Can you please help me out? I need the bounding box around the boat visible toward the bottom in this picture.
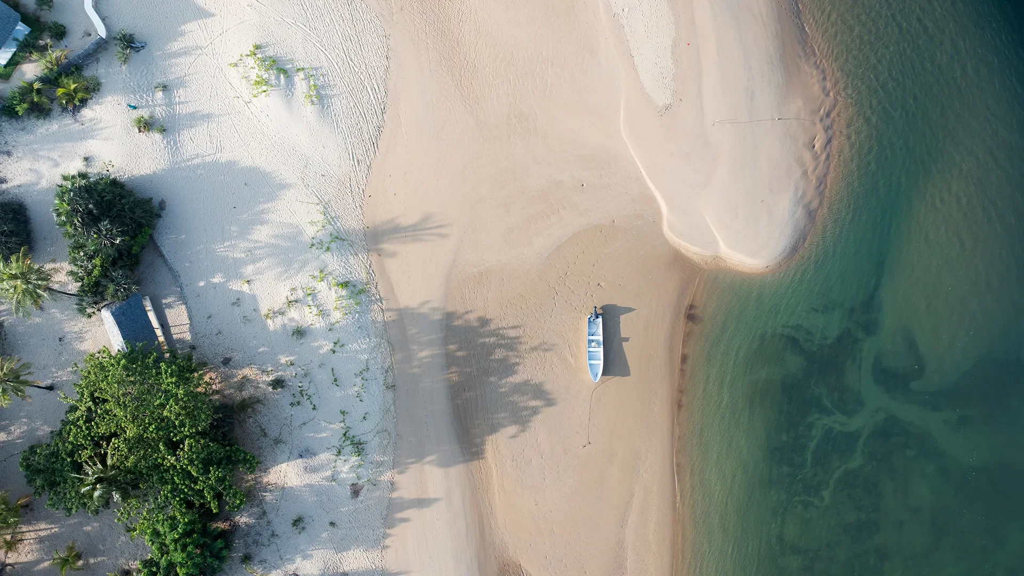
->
[588,317,605,383]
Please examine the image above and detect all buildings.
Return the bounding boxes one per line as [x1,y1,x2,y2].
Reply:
[90,293,171,368]
[0,3,22,59]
